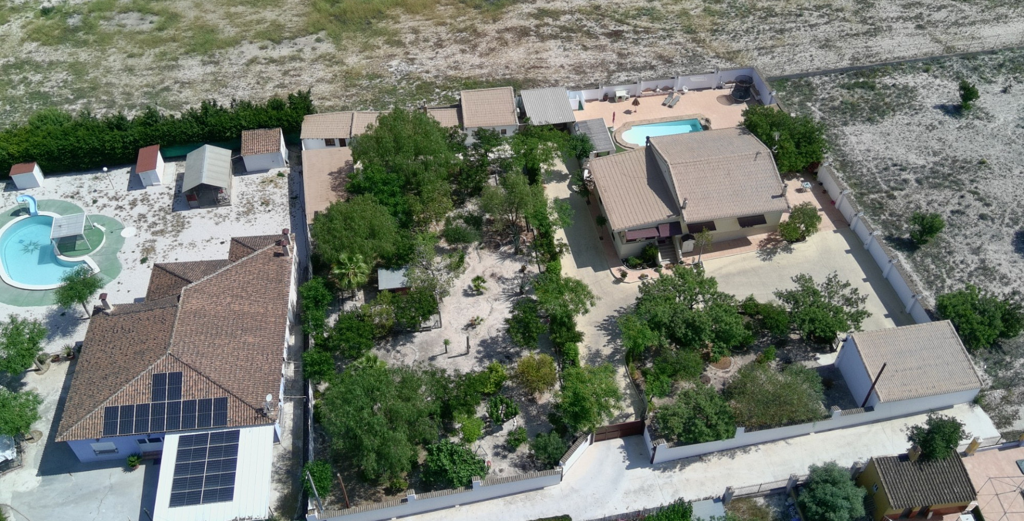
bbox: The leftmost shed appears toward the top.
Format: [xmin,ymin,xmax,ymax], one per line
[9,161,44,189]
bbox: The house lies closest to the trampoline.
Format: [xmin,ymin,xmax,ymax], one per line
[587,126,793,263]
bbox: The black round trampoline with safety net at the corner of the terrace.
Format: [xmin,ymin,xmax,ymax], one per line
[730,75,756,105]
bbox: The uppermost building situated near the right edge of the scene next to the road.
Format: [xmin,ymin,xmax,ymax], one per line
[838,314,987,421]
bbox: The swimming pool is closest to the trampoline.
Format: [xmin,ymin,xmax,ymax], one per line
[613,111,714,149]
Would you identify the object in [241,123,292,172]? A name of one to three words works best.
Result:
shed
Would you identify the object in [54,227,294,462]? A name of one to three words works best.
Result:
house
